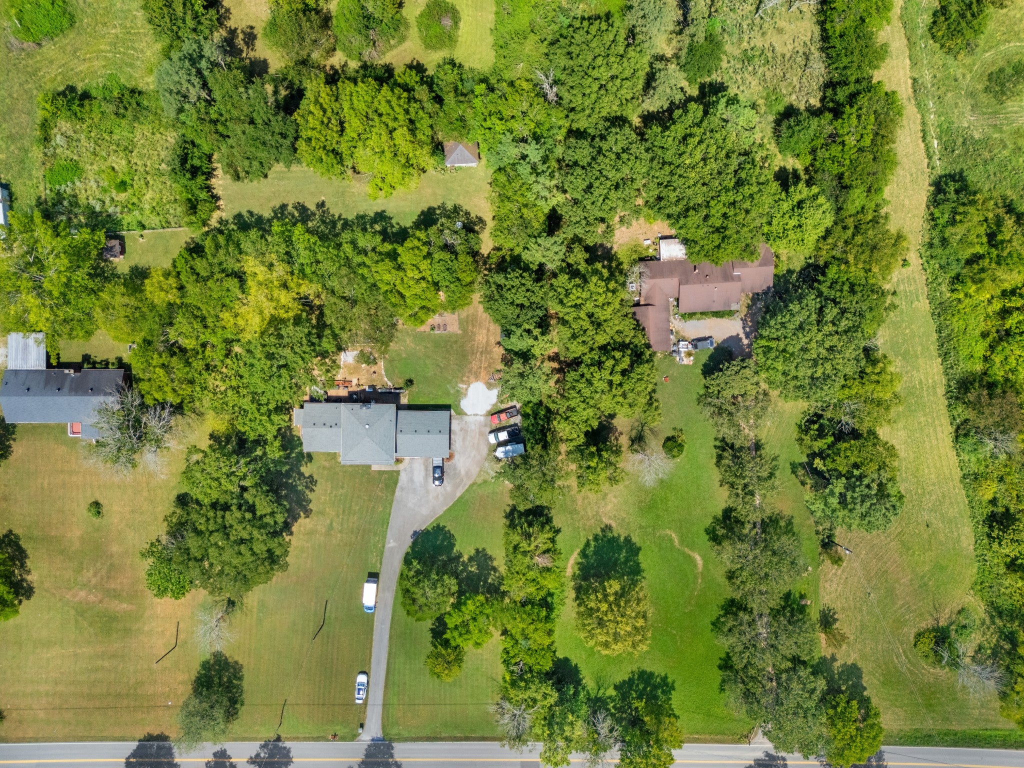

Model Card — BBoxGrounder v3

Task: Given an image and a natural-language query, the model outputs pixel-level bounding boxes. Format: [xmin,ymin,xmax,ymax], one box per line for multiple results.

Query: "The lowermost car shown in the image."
[353,673,366,702]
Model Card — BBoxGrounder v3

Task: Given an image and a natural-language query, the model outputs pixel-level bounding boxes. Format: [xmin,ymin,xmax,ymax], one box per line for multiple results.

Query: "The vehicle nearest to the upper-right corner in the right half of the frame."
[690,337,716,351]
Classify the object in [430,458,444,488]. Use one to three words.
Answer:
vehicle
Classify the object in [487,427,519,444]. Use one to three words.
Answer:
vehicle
